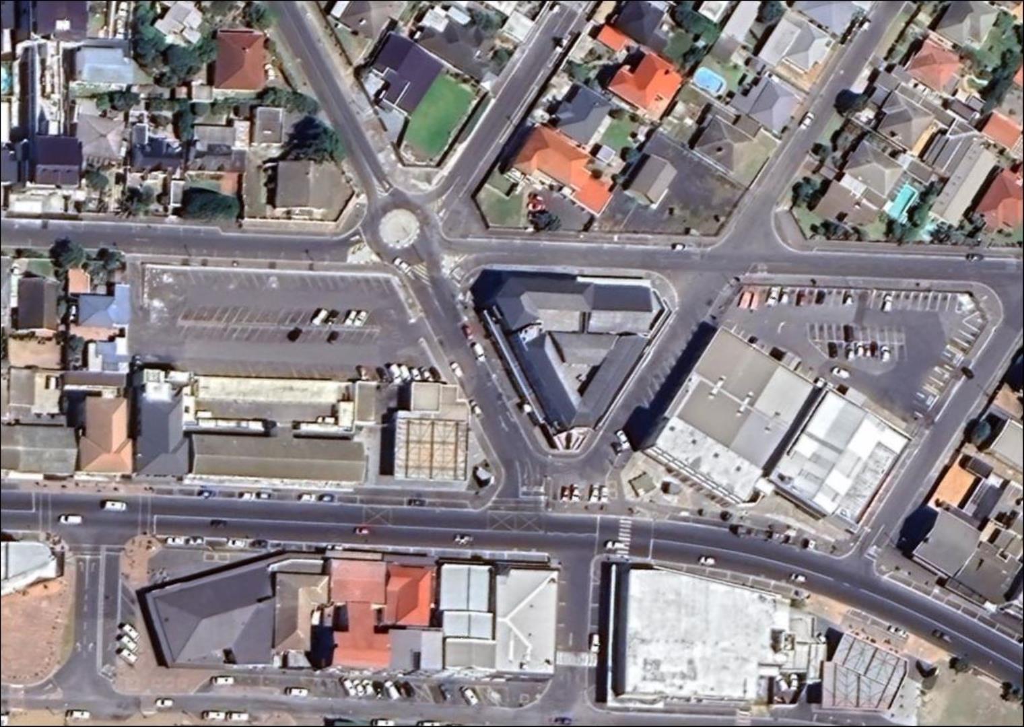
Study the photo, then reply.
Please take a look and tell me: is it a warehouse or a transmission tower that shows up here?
warehouse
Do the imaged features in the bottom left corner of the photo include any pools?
No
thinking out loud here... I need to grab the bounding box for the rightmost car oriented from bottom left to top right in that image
[859,17,873,34]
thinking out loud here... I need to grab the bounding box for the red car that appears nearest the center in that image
[463,322,475,338]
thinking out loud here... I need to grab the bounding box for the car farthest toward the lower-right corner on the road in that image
[933,628,952,642]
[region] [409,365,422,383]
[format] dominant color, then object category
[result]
white vehicle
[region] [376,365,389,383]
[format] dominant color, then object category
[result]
black vehicle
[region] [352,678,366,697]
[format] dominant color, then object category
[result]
white car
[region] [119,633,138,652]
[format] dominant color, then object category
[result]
white vehicle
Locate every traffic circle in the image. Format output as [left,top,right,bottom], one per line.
[378,207,420,249]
